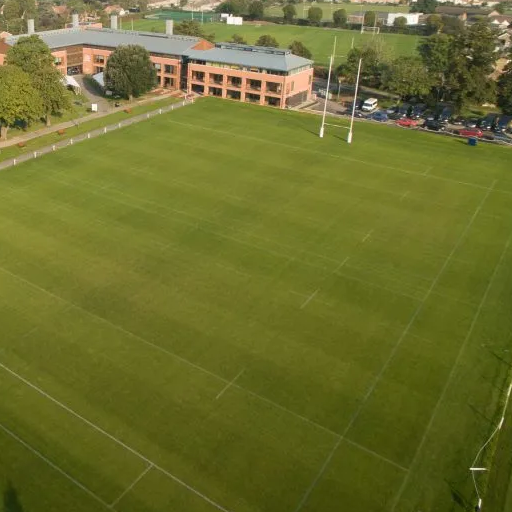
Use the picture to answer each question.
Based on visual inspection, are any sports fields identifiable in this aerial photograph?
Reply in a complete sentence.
Yes, the picture does show a sports field.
